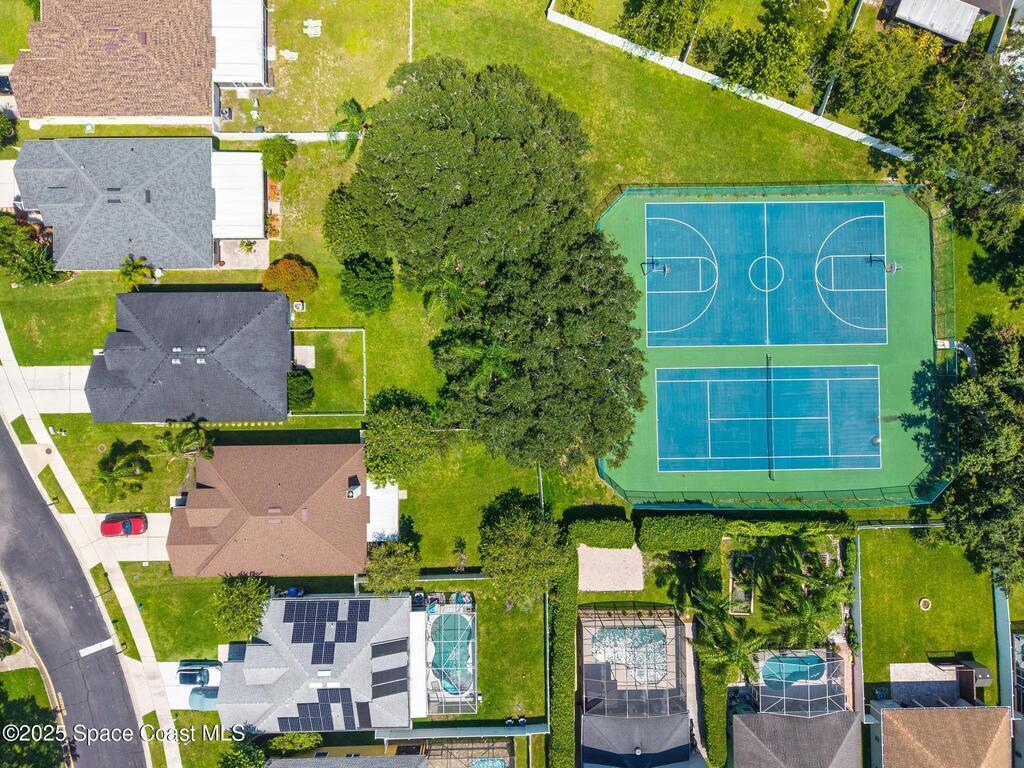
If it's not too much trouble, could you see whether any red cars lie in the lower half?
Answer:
Yes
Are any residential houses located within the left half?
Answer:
Yes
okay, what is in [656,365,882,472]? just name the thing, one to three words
tennis court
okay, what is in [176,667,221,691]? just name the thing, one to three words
car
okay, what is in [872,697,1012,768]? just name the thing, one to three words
house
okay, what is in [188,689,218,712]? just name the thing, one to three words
car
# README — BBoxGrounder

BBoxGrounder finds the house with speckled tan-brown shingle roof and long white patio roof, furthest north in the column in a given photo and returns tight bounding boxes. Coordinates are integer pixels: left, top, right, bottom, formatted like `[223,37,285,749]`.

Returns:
[9,0,272,125]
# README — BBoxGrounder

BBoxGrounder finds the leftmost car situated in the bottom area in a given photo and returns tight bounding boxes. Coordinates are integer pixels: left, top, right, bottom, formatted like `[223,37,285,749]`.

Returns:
[99,517,148,539]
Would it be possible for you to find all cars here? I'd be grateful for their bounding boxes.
[0,75,13,95]
[99,517,148,539]
[176,667,221,691]
[188,689,218,712]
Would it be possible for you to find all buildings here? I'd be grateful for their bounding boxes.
[12,137,272,271]
[728,705,862,768]
[84,292,292,426]
[216,594,430,732]
[583,707,691,768]
[888,0,1010,44]
[265,744,430,768]
[165,444,402,577]
[9,0,272,125]
[872,697,1012,768]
